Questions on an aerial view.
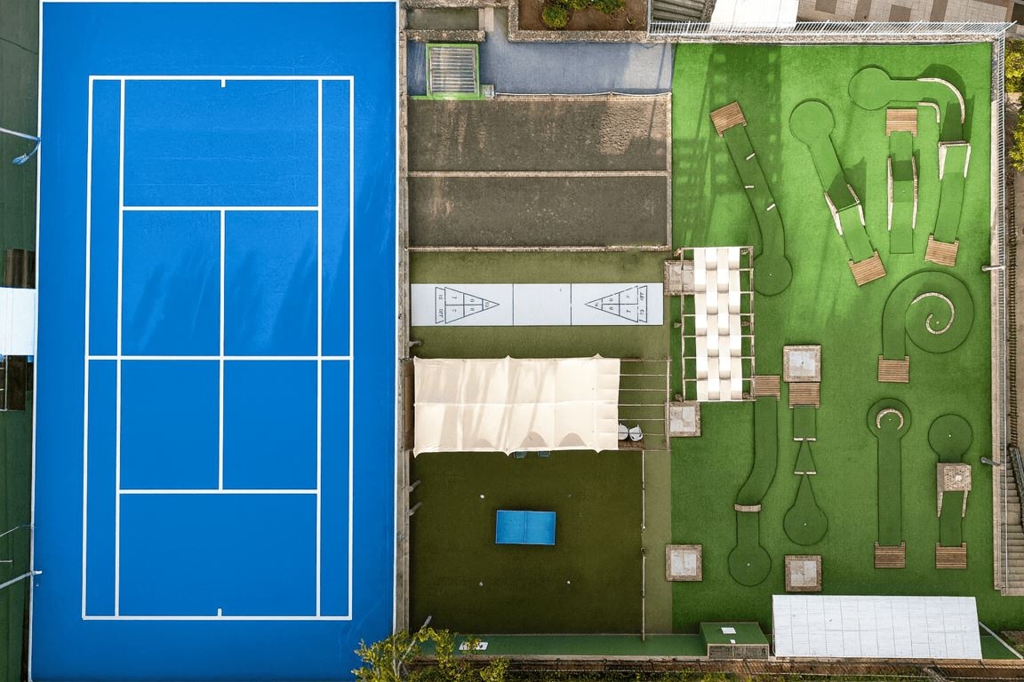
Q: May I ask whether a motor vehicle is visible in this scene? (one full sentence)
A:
No, the photo shows no motor vehicle.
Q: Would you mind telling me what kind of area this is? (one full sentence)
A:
This image shows a sports ground.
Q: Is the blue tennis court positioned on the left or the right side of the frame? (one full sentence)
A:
The blue tennis court is on the left side of the image.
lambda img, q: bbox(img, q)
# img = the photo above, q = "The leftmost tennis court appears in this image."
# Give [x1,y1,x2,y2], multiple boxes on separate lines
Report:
[26,0,398,682]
